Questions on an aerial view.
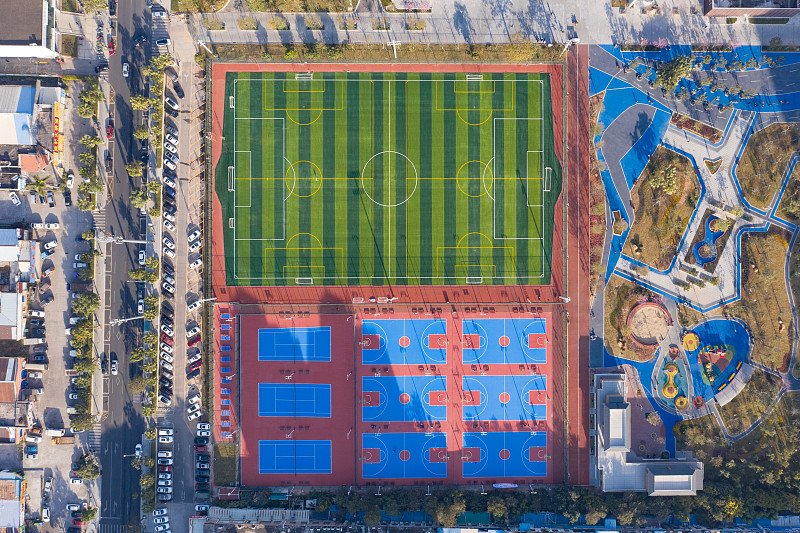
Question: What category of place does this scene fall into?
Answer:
sports ground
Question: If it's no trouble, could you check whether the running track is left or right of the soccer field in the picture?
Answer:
to its right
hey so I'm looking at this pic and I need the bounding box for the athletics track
[568,45,590,488]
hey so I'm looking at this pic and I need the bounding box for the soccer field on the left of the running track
[216,72,562,285]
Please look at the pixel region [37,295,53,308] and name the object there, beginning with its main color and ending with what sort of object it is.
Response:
gray vehicle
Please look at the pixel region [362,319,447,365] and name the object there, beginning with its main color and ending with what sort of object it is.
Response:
blue basketball court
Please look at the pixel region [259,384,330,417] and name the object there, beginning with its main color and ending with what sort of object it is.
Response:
blue tennis court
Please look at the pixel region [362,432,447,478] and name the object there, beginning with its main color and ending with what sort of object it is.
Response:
blue basketball court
